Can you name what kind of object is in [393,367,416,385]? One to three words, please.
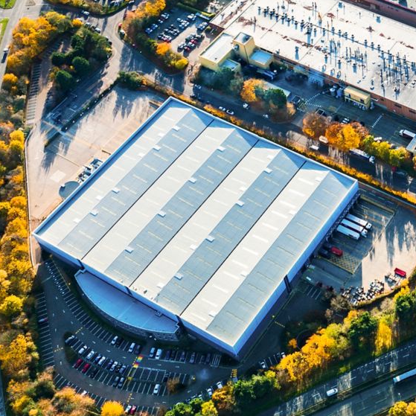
vehicle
